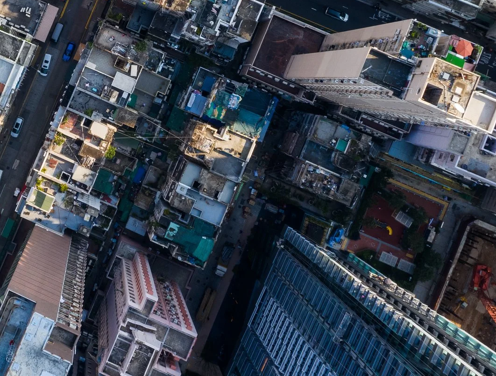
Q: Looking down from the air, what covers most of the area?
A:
buildings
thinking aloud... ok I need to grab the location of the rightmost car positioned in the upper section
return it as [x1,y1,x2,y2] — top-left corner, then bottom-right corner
[324,8,348,23]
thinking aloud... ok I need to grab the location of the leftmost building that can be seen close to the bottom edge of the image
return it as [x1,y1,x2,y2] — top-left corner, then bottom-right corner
[0,226,89,376]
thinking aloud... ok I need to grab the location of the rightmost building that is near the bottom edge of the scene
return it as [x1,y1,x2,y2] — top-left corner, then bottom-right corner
[231,226,496,376]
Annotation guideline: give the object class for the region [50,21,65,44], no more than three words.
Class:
vehicle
